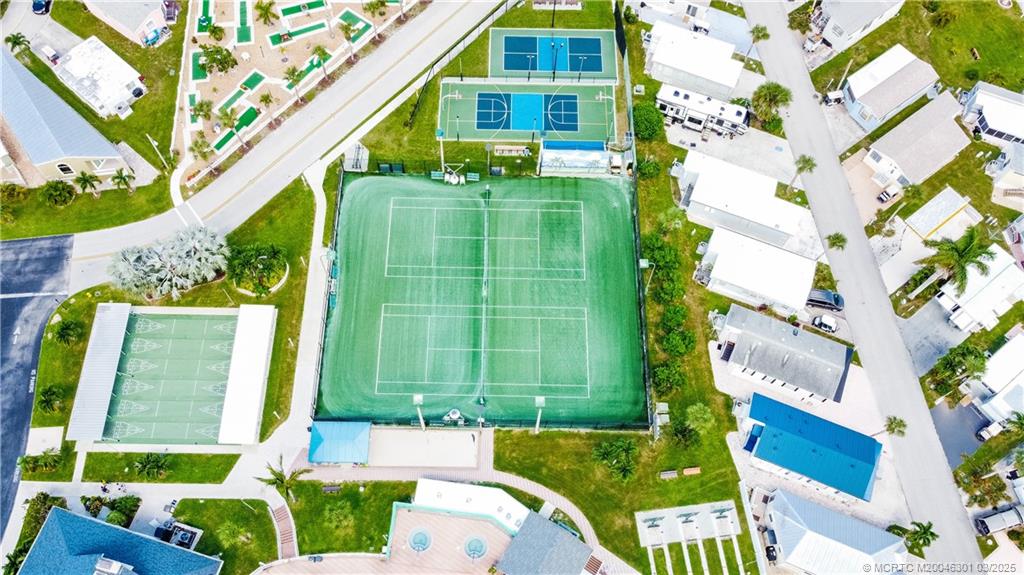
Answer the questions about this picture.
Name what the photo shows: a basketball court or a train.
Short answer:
basketball court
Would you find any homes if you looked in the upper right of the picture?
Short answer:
Yes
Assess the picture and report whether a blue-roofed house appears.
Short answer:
Yes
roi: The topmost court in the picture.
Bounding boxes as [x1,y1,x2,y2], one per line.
[488,27,618,82]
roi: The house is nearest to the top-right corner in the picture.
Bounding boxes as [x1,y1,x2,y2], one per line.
[966,81,1024,154]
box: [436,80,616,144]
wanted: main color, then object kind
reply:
green basketball court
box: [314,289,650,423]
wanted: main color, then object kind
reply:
green tennis court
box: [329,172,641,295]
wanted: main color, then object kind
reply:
green tennis court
